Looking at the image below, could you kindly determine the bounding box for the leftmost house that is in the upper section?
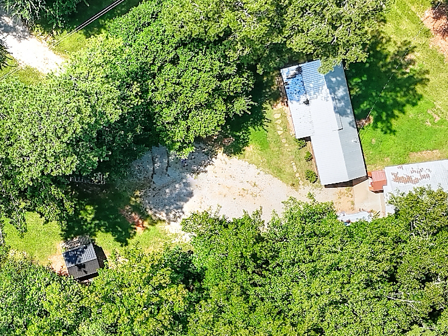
[277,55,368,185]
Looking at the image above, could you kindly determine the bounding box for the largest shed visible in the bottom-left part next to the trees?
[63,243,101,280]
